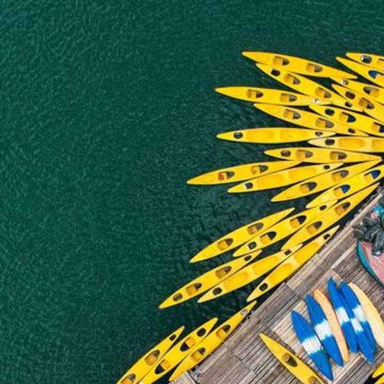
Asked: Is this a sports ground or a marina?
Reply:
marina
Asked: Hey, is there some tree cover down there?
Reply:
No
